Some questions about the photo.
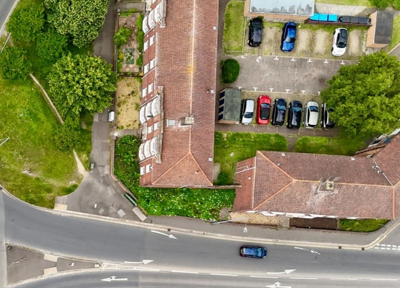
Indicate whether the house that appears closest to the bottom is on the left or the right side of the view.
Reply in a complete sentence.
It is on the right.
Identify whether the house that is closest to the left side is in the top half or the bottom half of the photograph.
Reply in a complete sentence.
You can find the house that is closest to the left side in the top half.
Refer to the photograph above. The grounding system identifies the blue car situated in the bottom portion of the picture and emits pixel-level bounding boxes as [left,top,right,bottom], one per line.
[238,244,267,260]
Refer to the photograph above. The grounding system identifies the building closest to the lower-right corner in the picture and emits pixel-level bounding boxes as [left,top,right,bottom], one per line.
[235,108,400,228]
